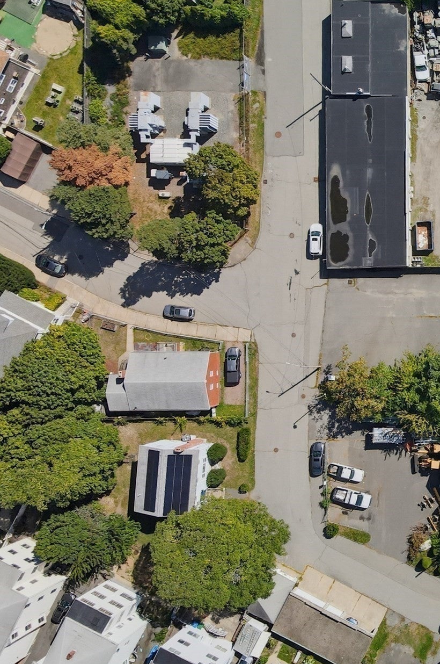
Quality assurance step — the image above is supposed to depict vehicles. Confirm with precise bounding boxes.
[163,304,196,320]
[236,653,254,664]
[411,444,440,465]
[326,462,365,482]
[33,254,69,277]
[52,592,76,623]
[307,222,324,257]
[309,443,325,476]
[331,488,371,508]
[223,347,243,384]
[411,39,431,86]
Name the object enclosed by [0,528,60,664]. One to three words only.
house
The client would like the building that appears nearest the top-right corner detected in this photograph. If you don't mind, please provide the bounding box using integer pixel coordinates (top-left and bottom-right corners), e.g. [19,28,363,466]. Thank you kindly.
[331,0,411,100]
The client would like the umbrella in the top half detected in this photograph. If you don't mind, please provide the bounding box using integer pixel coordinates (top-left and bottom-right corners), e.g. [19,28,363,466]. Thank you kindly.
[18,52,32,66]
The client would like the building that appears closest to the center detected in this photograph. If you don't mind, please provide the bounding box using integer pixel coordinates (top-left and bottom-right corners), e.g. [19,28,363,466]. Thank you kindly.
[106,343,218,412]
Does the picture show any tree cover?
Yes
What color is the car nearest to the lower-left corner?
black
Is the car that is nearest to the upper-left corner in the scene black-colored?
Yes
